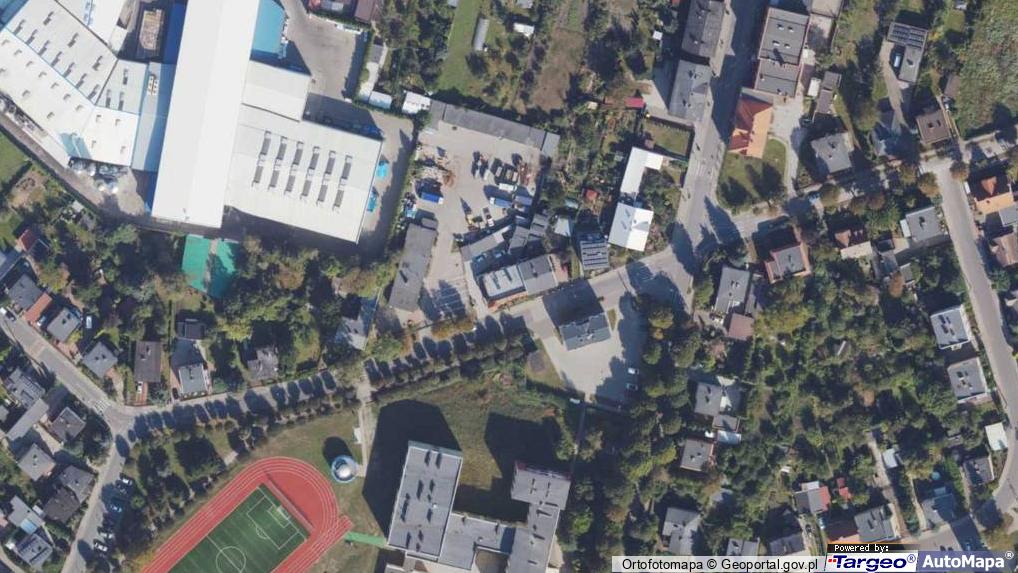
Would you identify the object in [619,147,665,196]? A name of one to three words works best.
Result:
building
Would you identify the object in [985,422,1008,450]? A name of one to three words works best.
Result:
building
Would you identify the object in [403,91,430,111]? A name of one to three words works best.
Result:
shed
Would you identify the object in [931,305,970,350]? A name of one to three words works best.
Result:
house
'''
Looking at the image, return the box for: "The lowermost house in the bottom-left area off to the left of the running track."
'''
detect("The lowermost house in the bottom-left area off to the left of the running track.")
[15,533,56,567]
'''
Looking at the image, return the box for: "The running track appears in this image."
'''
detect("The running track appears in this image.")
[133,461,356,573]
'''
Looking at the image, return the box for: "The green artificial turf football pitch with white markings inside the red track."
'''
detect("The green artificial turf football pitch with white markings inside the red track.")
[168,483,311,573]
